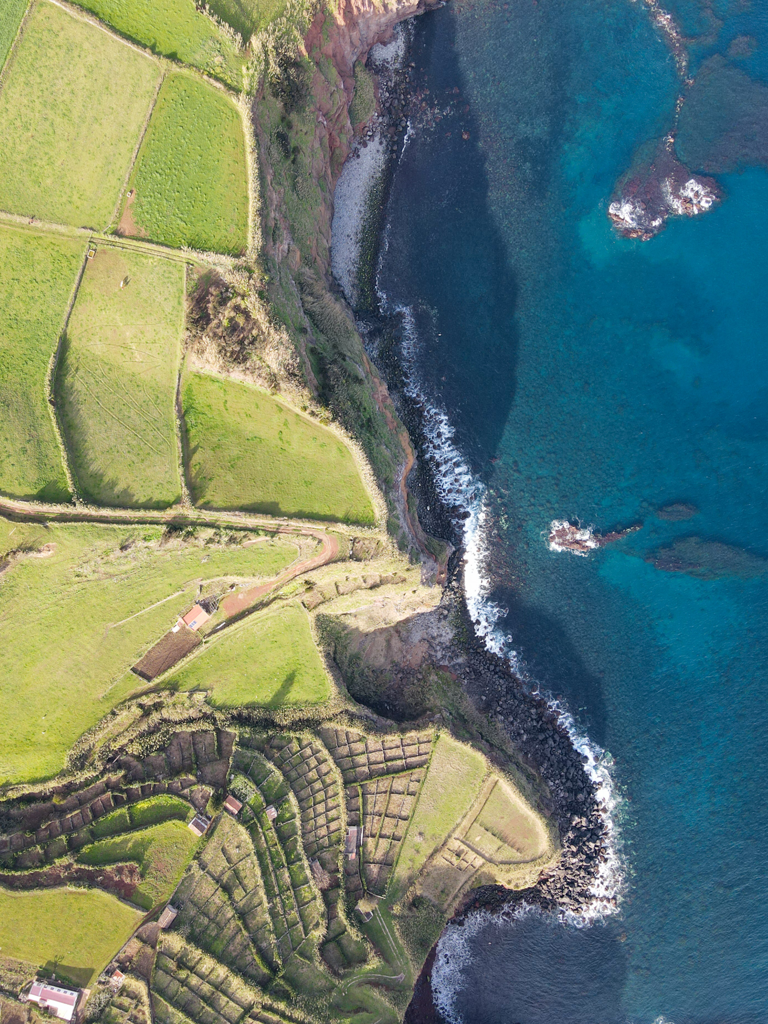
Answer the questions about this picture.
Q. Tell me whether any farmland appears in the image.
Yes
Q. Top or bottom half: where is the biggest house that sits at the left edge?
bottom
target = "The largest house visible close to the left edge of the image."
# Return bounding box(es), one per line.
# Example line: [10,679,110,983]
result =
[29,978,81,1012]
